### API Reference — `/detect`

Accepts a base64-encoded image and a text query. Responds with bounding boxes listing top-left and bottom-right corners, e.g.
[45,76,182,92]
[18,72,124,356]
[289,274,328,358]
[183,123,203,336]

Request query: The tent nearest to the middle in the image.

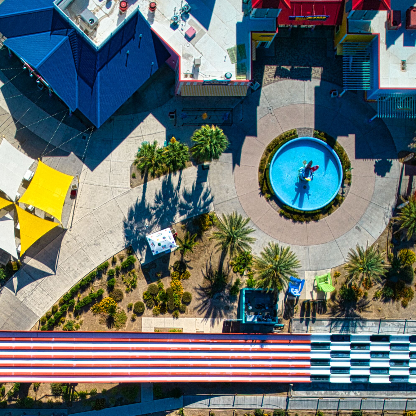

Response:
[144,227,177,257]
